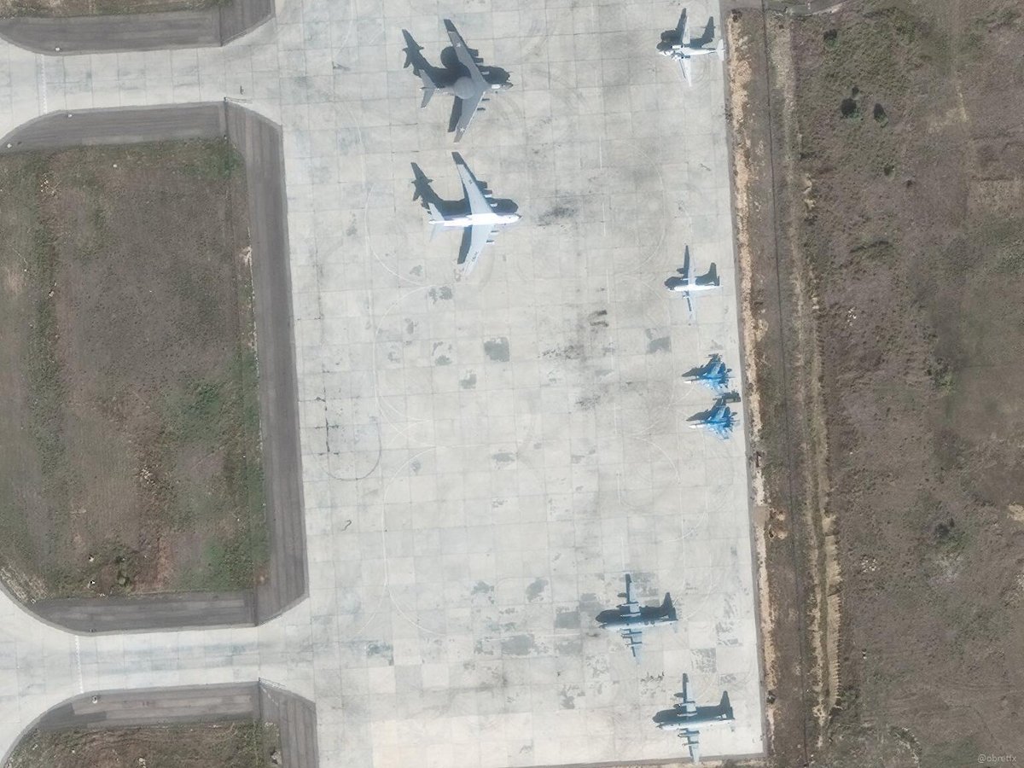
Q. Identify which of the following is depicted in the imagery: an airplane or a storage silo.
airplane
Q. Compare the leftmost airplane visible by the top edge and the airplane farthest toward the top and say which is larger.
the leftmost airplane visible by the top edge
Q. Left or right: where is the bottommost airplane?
right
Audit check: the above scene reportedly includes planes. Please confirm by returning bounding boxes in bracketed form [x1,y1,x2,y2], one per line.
[669,256,722,320]
[427,166,522,276]
[599,583,677,665]
[690,406,738,439]
[659,17,727,86]
[684,362,733,395]
[657,682,736,764]
[418,33,517,144]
